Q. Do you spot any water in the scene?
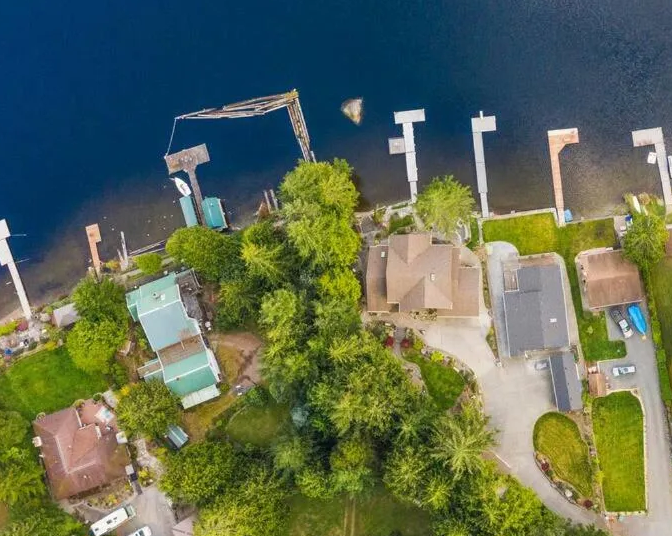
Yes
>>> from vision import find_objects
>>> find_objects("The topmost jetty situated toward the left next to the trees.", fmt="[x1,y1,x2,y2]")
[164,143,211,226]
